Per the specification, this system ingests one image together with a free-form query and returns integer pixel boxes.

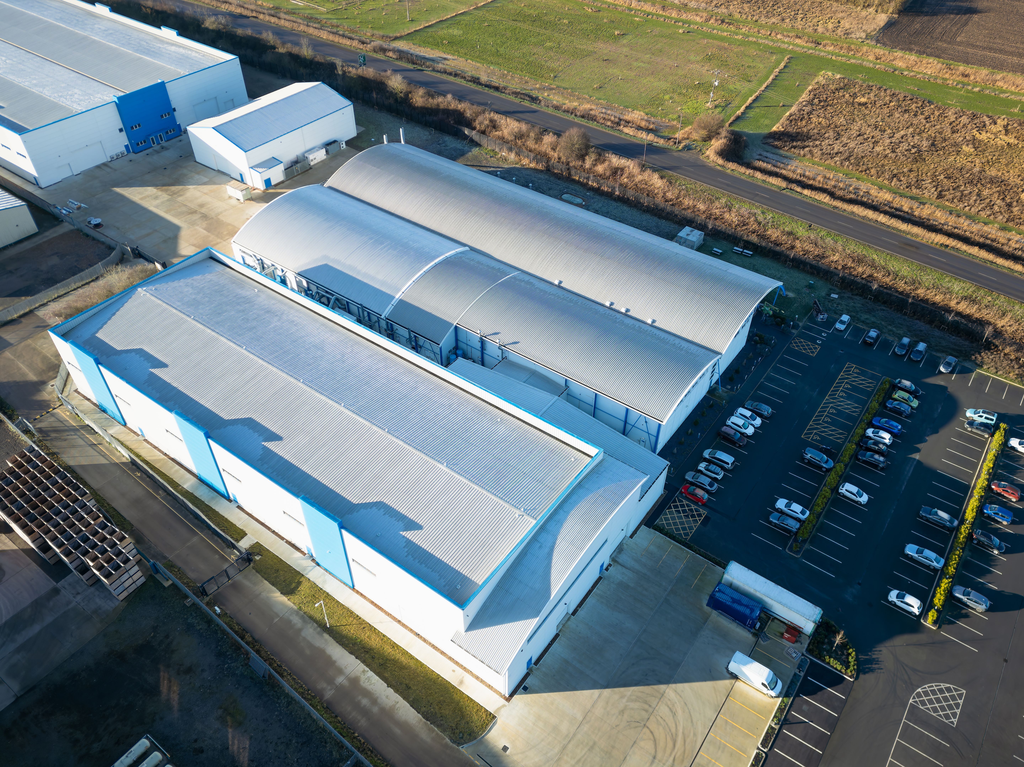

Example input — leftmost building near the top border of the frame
[0,0,249,188]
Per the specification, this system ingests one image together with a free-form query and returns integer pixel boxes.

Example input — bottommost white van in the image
[723,648,784,700]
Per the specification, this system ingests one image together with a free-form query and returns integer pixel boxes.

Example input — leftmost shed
[0,188,38,248]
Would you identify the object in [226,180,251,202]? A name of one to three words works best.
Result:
building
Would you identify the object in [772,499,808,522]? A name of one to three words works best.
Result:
car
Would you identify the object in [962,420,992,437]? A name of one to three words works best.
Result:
car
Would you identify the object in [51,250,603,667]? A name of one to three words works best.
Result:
warehouse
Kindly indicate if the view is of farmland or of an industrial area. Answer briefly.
industrial area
